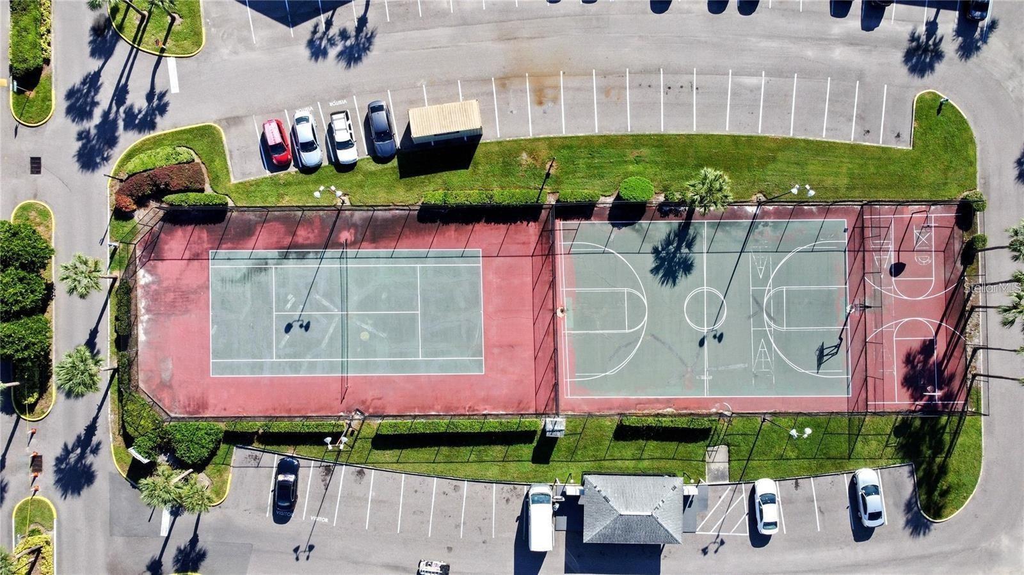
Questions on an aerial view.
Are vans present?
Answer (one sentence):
Yes, the picture does show a van.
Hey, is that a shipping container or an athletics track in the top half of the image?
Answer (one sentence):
The feature located in the top half of the image is a shipping container.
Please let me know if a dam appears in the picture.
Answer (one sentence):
No, there is no dam in the image.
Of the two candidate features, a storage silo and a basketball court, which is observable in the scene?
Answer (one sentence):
Visible in the photo is a basketball court.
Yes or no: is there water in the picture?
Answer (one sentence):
No, no water is visible.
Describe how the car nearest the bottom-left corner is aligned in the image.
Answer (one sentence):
In this picture, the car nearest the bottom-left corner lies from top to bottom.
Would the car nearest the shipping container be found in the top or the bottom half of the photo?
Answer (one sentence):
The car nearest the shipping container is in the top half of the image.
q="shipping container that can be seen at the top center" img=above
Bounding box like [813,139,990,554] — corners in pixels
[407,98,483,143]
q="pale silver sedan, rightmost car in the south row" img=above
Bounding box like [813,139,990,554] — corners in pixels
[853,468,884,526]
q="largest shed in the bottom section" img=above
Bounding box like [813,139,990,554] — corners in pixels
[564,475,697,544]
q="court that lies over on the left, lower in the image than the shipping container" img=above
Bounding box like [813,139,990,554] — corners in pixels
[135,206,556,415]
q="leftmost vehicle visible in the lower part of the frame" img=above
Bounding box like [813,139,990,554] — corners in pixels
[272,456,299,511]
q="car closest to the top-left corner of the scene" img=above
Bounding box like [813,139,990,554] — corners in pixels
[263,118,295,169]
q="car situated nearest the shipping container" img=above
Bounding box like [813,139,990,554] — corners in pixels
[368,101,398,160]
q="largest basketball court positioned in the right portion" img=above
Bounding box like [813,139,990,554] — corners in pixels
[554,204,868,414]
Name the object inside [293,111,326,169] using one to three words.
car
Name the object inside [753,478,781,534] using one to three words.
car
